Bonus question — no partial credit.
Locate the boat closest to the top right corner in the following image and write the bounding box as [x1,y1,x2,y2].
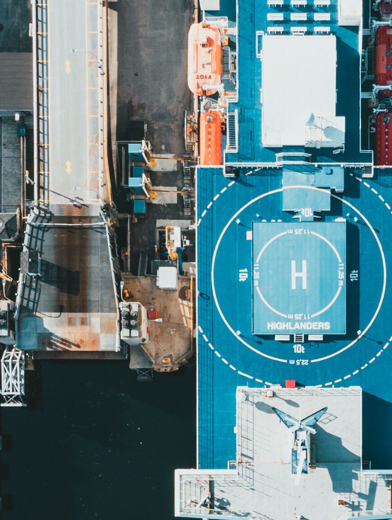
[378,0,392,21]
